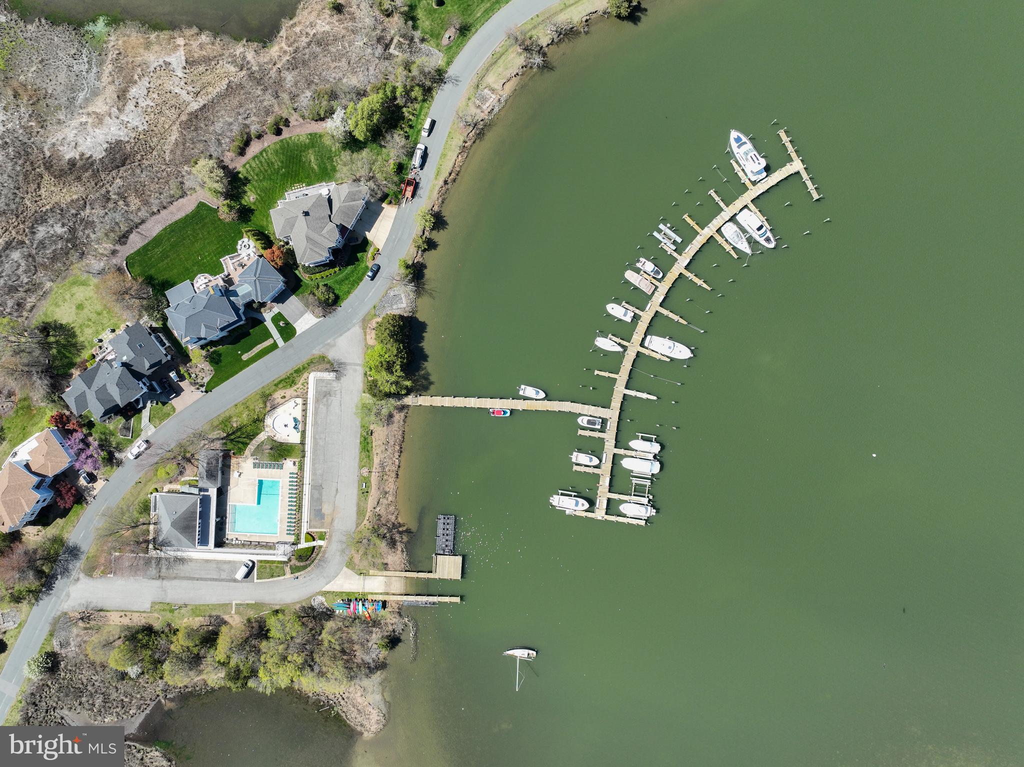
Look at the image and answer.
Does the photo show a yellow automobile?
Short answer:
No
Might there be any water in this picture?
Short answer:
Yes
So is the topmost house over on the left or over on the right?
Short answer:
left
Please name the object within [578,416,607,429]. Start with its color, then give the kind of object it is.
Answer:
white boat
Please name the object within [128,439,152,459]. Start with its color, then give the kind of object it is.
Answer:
white vehicle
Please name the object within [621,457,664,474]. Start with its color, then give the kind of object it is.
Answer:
white boat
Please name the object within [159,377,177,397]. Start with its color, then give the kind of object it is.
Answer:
black car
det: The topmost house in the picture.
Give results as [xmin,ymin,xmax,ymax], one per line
[269,180,371,266]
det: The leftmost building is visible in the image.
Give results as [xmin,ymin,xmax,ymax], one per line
[0,428,78,533]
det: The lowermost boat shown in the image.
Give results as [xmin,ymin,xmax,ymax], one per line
[505,649,536,689]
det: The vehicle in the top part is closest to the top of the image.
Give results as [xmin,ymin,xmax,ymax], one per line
[421,116,435,137]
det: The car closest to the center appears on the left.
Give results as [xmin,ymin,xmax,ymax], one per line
[364,264,381,281]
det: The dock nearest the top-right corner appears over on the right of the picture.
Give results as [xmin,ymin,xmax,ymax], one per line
[777,130,819,200]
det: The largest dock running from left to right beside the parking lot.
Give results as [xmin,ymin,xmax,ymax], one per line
[400,395,610,419]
